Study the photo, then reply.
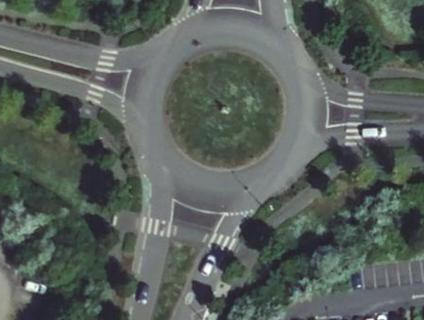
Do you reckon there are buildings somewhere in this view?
No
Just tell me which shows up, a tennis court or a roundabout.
roundabout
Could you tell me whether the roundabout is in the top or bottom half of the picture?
top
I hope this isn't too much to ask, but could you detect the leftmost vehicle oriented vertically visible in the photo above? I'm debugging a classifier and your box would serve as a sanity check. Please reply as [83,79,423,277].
[137,282,149,304]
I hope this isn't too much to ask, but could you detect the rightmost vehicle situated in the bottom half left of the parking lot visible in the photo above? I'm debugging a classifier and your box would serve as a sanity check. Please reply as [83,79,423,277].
[200,254,216,276]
